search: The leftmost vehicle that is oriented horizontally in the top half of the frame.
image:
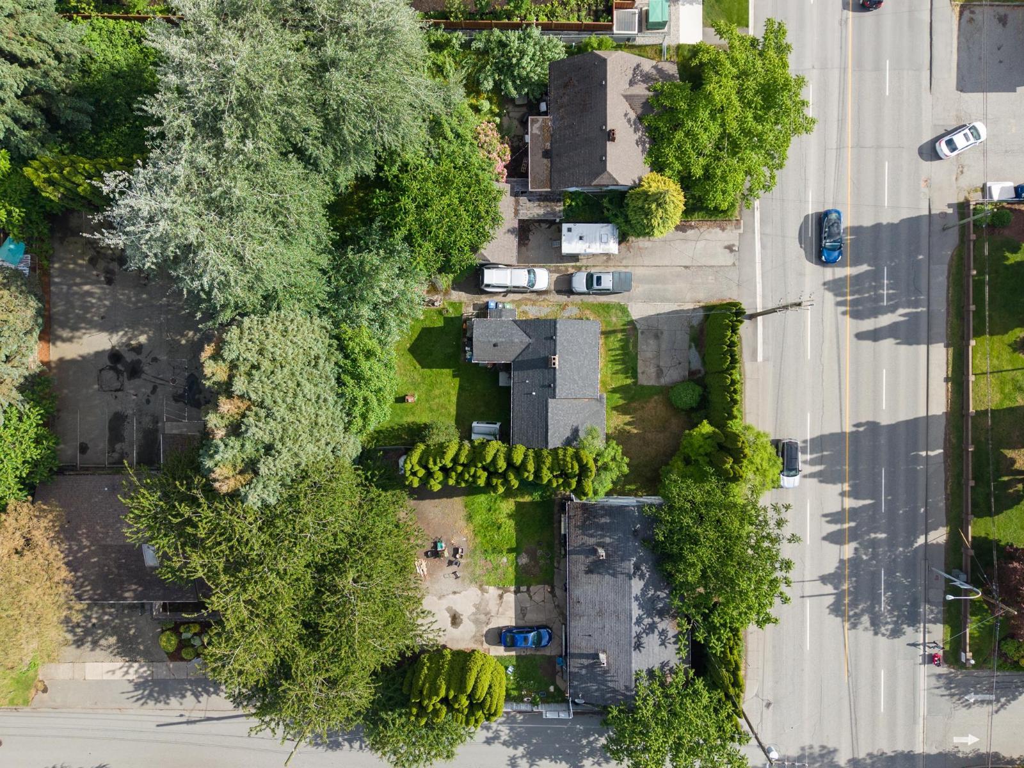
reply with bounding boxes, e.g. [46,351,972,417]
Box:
[480,266,549,294]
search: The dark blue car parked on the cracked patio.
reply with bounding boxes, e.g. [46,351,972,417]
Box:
[500,624,551,650]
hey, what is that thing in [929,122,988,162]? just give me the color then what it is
white car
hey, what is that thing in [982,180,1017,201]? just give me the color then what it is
white trailer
